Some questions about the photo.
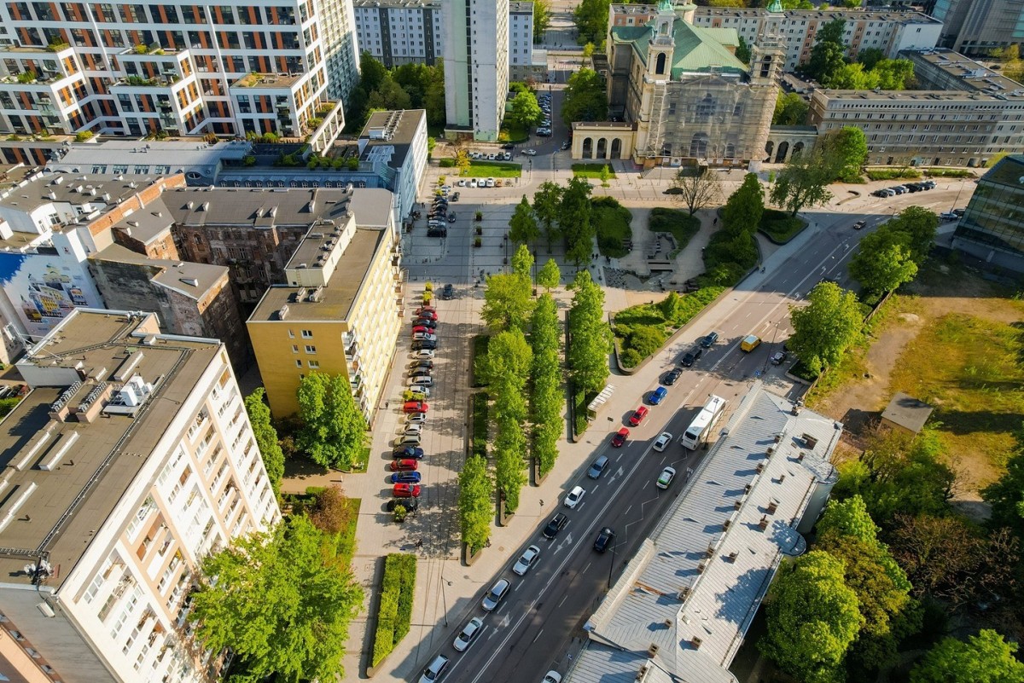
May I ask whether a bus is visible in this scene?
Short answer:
Yes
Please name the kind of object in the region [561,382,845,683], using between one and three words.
house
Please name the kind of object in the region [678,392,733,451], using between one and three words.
bus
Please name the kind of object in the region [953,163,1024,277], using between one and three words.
building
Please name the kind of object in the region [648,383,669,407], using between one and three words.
car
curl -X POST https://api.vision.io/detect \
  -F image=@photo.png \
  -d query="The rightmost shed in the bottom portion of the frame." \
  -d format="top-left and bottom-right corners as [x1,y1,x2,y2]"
[876,392,933,443]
